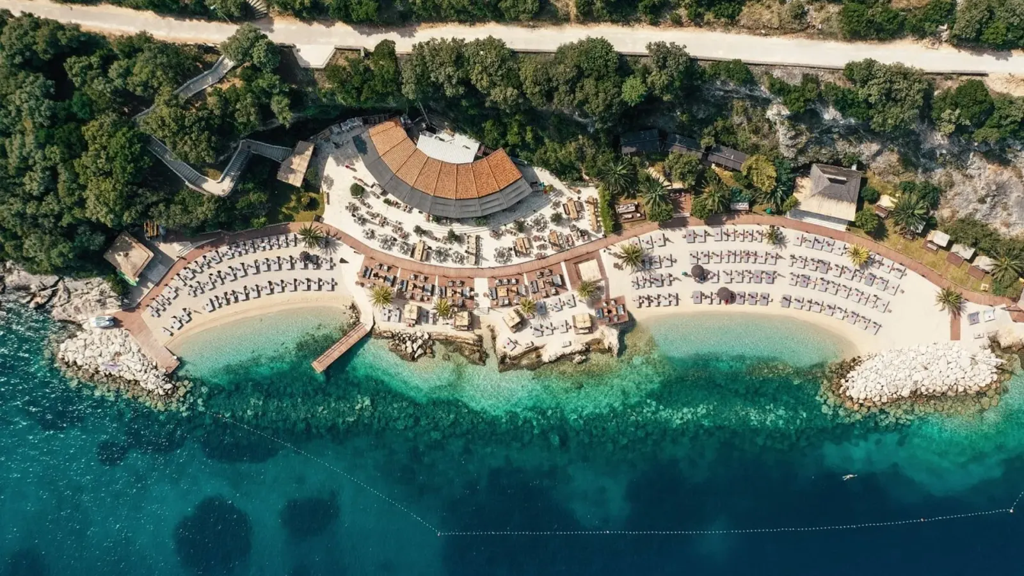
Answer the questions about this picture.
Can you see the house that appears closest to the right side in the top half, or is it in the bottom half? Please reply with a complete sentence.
It is in the top half that the house that appears closest to the right side appears.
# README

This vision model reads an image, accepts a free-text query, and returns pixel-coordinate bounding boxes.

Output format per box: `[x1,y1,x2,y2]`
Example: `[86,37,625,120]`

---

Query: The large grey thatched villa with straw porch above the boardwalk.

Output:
[783,164,862,231]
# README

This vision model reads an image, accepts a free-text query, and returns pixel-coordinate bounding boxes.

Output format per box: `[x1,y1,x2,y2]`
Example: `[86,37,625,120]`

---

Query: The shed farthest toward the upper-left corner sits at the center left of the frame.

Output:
[104,231,157,282]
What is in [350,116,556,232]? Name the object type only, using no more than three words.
building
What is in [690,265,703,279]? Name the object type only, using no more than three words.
umbrella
